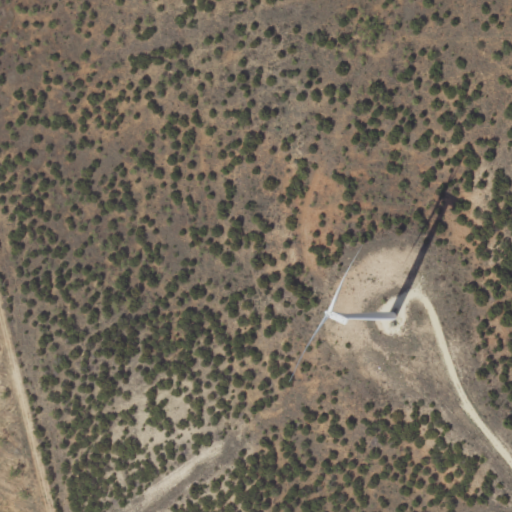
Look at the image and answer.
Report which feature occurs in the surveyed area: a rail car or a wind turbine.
wind turbine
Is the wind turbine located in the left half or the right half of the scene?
right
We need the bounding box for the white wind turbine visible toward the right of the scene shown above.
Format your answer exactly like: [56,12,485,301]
[292,248,403,379]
